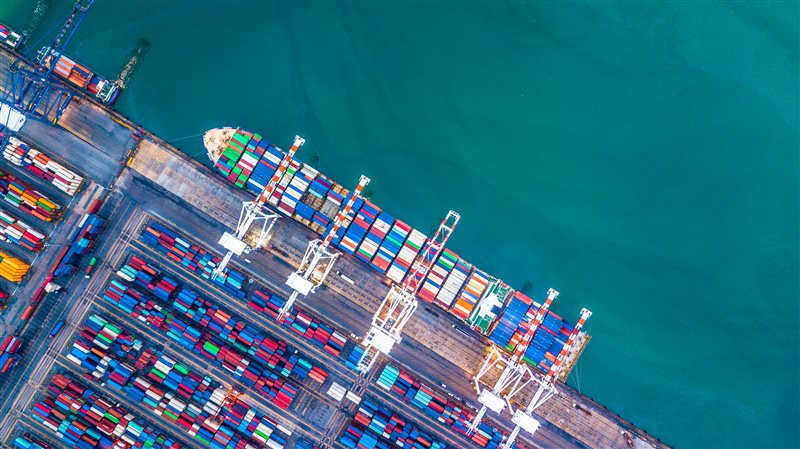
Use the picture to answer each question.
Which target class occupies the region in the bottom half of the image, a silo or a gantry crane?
gantry crane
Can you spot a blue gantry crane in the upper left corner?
Yes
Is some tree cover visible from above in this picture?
No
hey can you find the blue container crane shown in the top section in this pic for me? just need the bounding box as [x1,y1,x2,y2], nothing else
[0,0,95,151]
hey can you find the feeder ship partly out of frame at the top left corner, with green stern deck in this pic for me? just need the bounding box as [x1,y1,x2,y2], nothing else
[0,19,34,54]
